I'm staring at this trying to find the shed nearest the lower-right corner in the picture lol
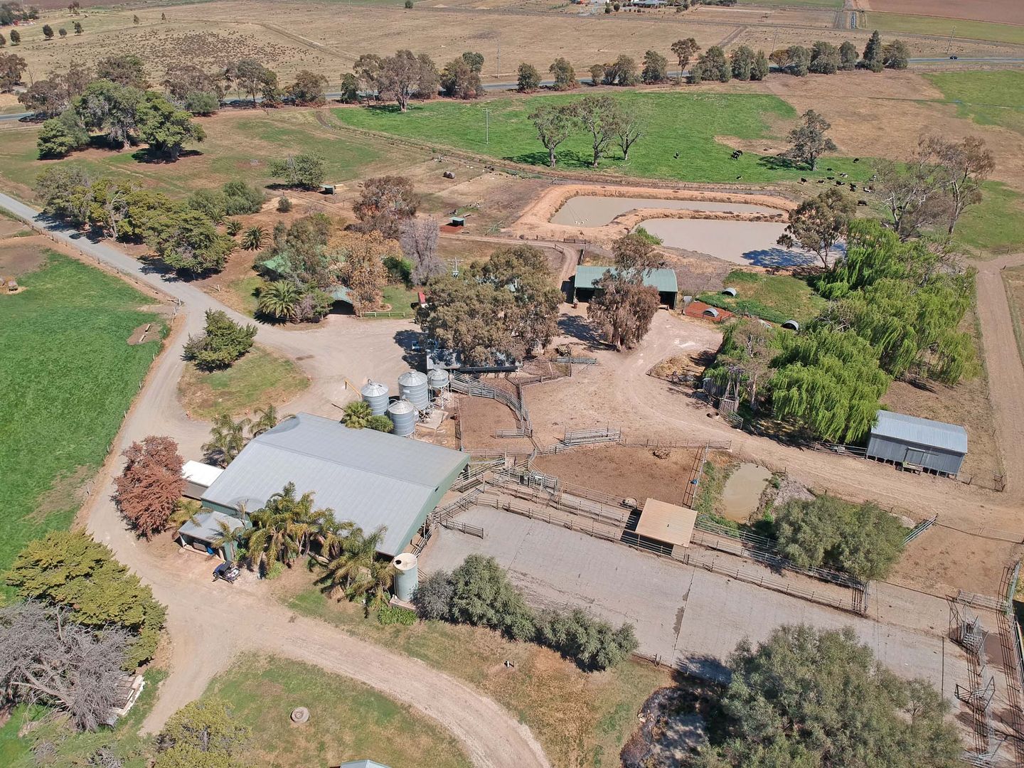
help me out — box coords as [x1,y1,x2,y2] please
[864,408,969,480]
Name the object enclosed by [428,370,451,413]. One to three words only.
silo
